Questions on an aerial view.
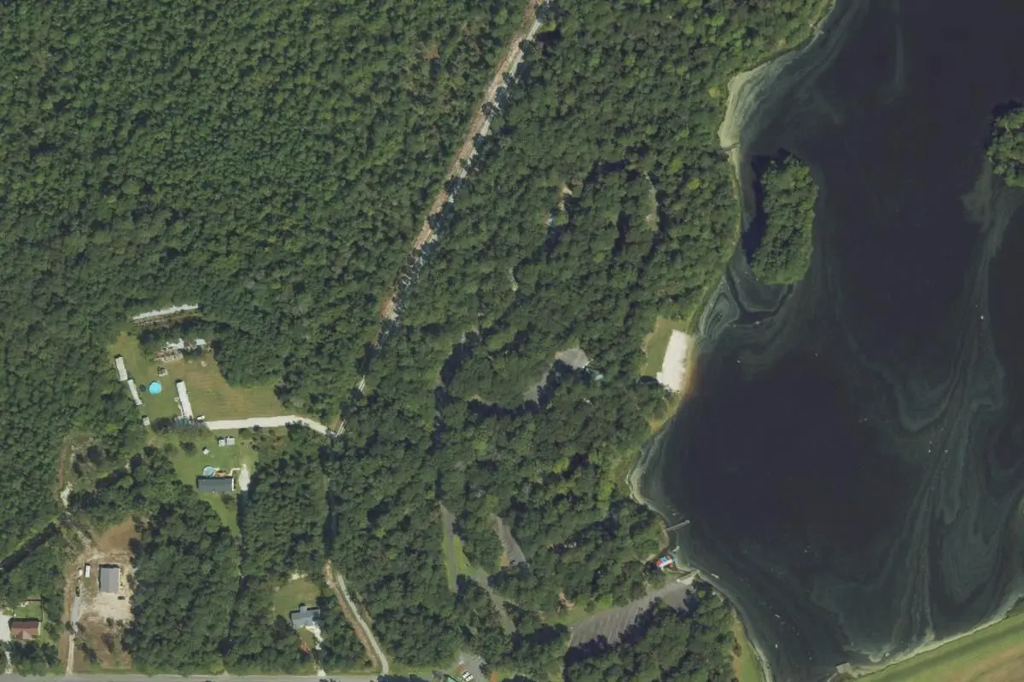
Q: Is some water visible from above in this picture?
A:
Yes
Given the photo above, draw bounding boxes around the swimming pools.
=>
[149,382,162,394]
[203,466,215,478]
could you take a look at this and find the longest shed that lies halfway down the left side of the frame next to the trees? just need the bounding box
[132,303,198,321]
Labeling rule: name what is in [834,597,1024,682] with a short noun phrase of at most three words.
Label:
dam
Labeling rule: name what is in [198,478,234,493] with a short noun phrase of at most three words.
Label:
house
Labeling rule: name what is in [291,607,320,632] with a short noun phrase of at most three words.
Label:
house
